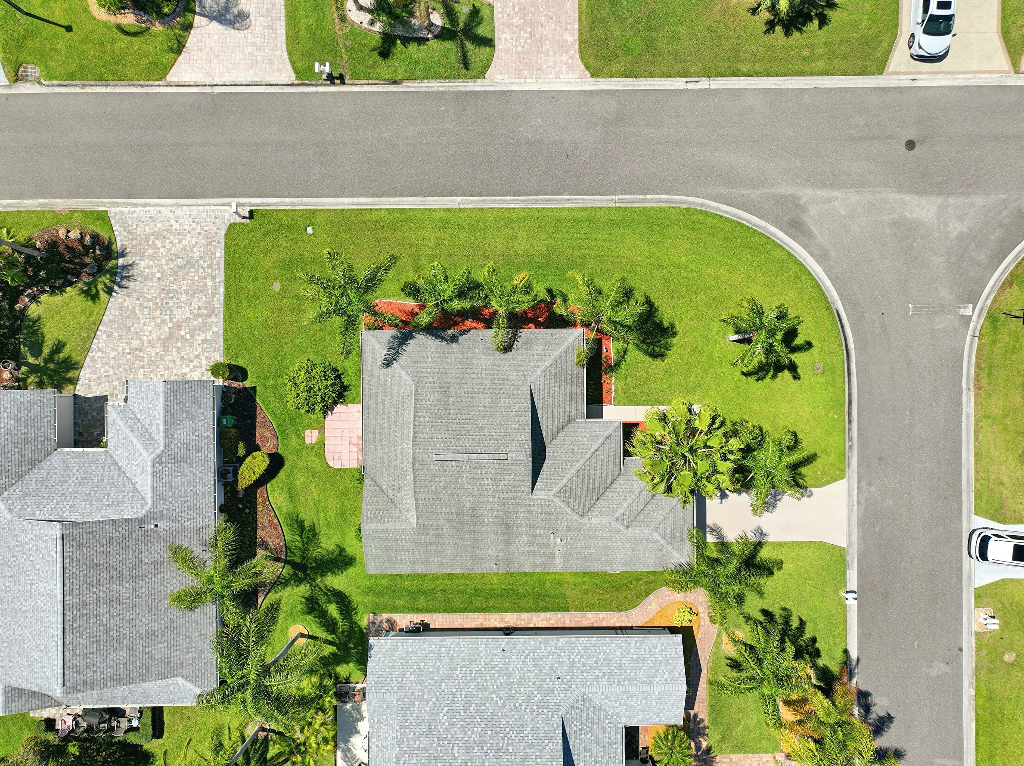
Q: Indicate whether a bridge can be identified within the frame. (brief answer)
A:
No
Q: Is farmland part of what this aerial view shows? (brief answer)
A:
No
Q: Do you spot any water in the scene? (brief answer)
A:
No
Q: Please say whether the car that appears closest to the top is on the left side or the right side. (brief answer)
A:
right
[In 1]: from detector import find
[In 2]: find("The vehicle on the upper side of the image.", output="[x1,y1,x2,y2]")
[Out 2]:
[915,0,963,62]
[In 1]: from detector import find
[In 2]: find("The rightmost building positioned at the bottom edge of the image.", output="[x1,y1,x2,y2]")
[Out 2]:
[365,631,686,766]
